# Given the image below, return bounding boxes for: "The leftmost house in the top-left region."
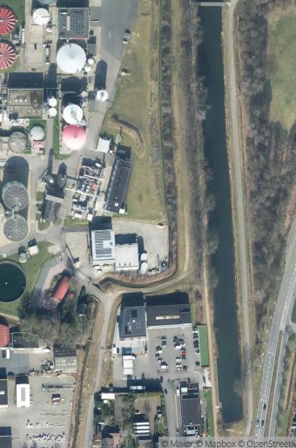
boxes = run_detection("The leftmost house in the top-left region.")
[9,90,42,119]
